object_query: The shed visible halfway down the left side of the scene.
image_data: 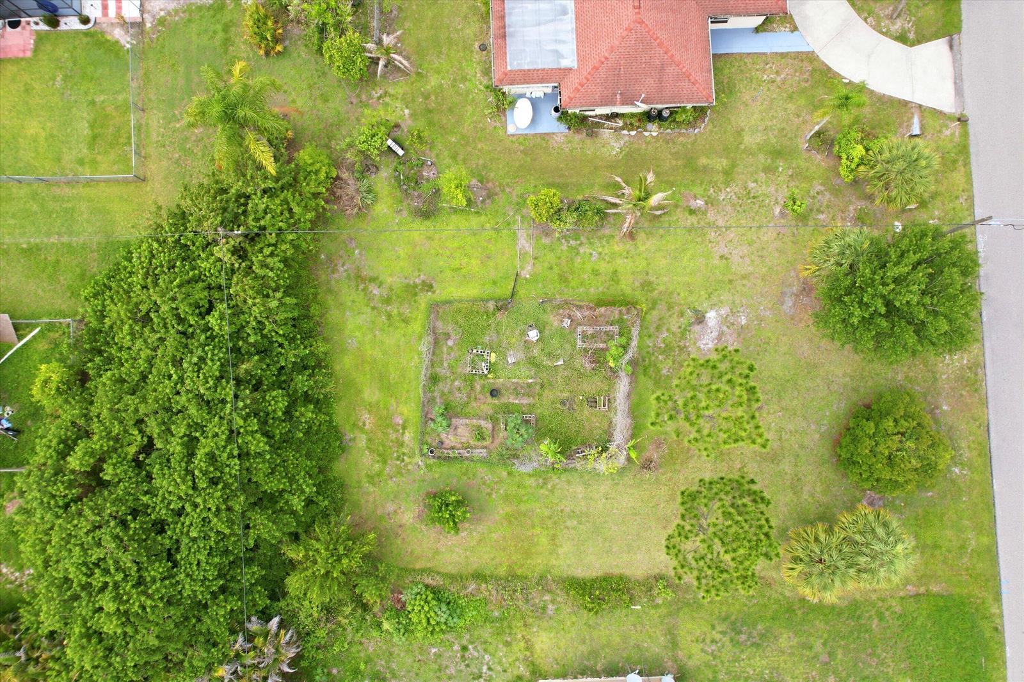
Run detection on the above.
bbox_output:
[0,313,29,345]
